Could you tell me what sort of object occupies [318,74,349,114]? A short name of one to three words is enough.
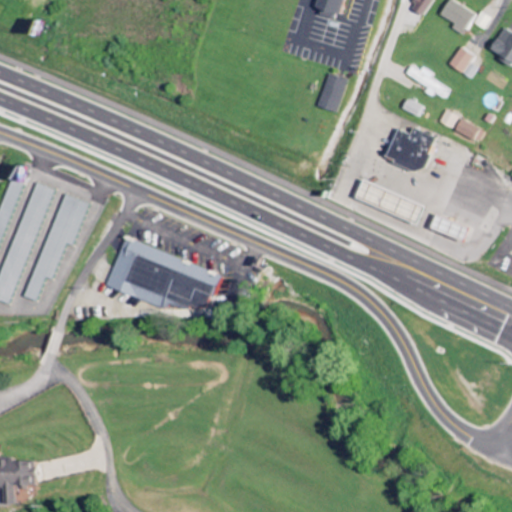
shed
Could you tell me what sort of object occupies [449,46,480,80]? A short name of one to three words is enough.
house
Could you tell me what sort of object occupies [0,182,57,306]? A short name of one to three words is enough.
building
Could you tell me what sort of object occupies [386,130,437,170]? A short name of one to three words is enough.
building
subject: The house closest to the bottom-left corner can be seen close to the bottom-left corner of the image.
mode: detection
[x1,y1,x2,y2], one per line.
[0,456,36,502]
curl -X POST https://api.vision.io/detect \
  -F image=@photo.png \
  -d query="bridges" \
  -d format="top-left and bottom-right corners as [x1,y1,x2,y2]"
[42,318,70,364]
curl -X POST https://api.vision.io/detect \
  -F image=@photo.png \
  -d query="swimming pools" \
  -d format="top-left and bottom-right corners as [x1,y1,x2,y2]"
[483,92,504,116]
